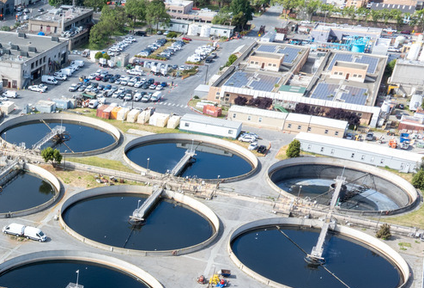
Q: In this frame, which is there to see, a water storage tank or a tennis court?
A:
water storage tank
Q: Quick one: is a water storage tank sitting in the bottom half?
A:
Yes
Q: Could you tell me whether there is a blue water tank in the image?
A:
Yes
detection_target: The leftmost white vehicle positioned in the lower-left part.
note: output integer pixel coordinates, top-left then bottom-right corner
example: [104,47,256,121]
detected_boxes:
[4,222,27,237]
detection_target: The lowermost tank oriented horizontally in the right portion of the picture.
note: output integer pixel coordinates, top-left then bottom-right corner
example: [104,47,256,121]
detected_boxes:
[227,211,411,288]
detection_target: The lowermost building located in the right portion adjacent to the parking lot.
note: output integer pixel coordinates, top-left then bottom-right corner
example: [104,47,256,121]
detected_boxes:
[209,40,388,125]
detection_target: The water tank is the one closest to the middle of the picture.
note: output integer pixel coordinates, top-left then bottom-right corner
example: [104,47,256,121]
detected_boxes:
[123,134,259,186]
